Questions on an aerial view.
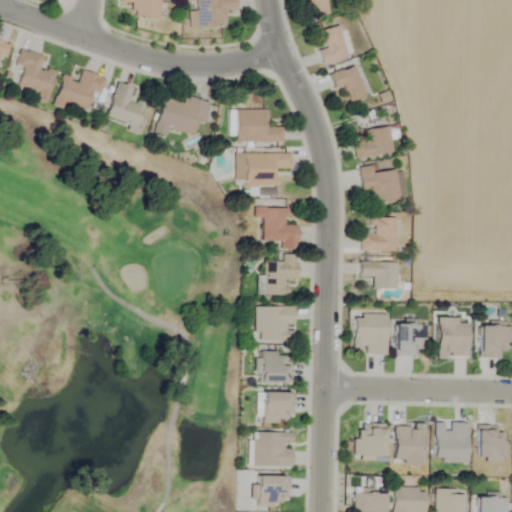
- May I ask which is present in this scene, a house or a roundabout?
house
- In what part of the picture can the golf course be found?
left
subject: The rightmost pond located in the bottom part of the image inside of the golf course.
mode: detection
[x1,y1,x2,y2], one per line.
[178,419,224,481]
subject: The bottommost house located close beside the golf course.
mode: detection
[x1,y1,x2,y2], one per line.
[252,476,291,507]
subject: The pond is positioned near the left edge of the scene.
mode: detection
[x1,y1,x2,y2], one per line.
[2,331,167,512]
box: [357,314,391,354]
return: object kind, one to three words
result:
house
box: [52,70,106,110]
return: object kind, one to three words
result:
house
